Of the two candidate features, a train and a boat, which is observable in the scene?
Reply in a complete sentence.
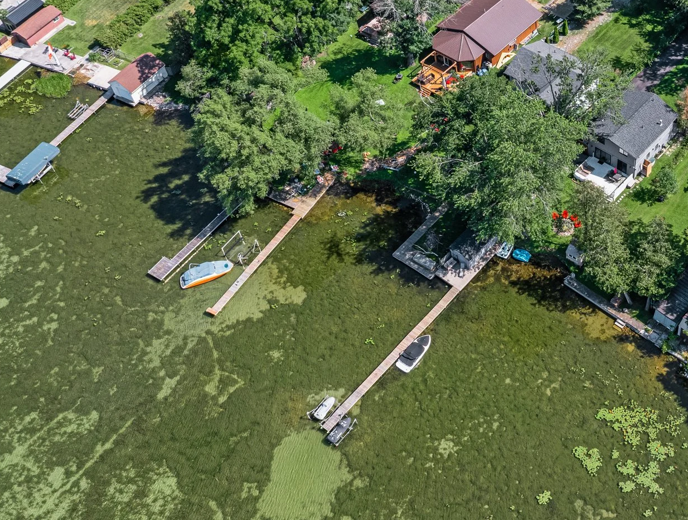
Of the two, only a boat appears.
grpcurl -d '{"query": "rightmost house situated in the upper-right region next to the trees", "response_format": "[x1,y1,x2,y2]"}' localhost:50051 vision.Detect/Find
[589,92,678,175]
